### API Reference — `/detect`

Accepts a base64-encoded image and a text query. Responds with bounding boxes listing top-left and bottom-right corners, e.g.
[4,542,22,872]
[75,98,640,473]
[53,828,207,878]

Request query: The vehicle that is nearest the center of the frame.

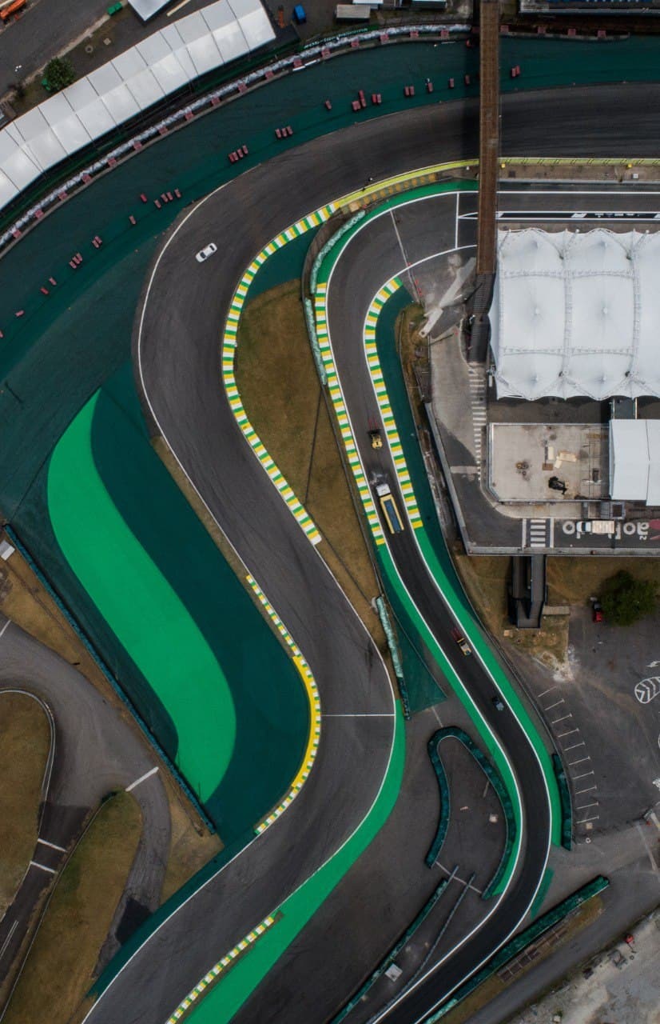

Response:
[378,483,403,533]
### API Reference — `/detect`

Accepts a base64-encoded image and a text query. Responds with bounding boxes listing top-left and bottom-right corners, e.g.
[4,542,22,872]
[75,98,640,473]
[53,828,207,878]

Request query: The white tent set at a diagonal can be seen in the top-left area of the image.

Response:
[0,0,281,219]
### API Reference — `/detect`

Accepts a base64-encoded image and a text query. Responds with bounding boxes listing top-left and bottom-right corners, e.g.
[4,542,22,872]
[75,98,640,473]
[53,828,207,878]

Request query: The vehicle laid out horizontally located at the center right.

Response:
[578,521,619,534]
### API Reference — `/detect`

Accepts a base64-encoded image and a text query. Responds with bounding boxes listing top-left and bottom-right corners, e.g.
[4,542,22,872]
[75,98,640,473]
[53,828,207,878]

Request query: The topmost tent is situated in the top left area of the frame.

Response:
[128,0,175,26]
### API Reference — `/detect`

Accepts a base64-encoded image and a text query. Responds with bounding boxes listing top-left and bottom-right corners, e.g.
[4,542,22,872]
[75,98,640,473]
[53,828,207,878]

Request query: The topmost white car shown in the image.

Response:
[196,244,219,263]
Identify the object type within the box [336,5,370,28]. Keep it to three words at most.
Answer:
building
